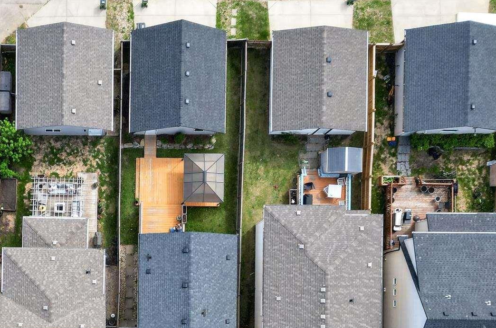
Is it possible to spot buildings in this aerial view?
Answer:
Yes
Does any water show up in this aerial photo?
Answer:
No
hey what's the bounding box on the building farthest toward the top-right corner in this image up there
[392,20,496,137]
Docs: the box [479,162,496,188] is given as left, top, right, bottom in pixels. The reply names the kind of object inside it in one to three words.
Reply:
shed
